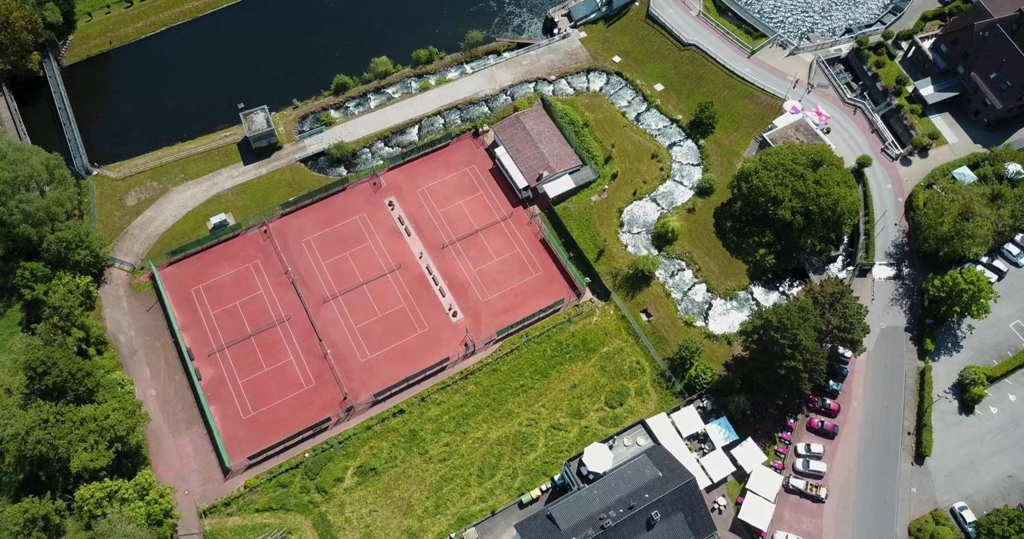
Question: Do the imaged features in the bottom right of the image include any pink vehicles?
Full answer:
Yes, there is a pink vehicle in the bottom right of the image.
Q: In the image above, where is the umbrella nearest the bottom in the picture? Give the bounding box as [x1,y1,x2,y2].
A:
[737,495,774,533]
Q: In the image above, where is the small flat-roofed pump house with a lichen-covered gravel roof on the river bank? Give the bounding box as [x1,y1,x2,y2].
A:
[240,105,280,151]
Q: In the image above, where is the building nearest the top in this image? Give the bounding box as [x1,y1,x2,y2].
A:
[551,0,635,35]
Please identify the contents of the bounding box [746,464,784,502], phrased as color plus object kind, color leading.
white umbrella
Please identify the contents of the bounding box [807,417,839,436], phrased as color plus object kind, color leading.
pink car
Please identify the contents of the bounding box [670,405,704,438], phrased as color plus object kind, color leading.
white umbrella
